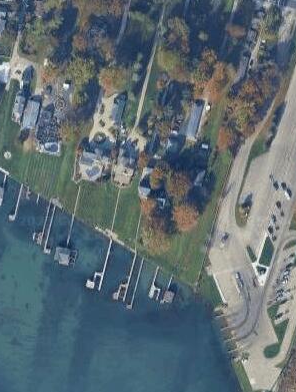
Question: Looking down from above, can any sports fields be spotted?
No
